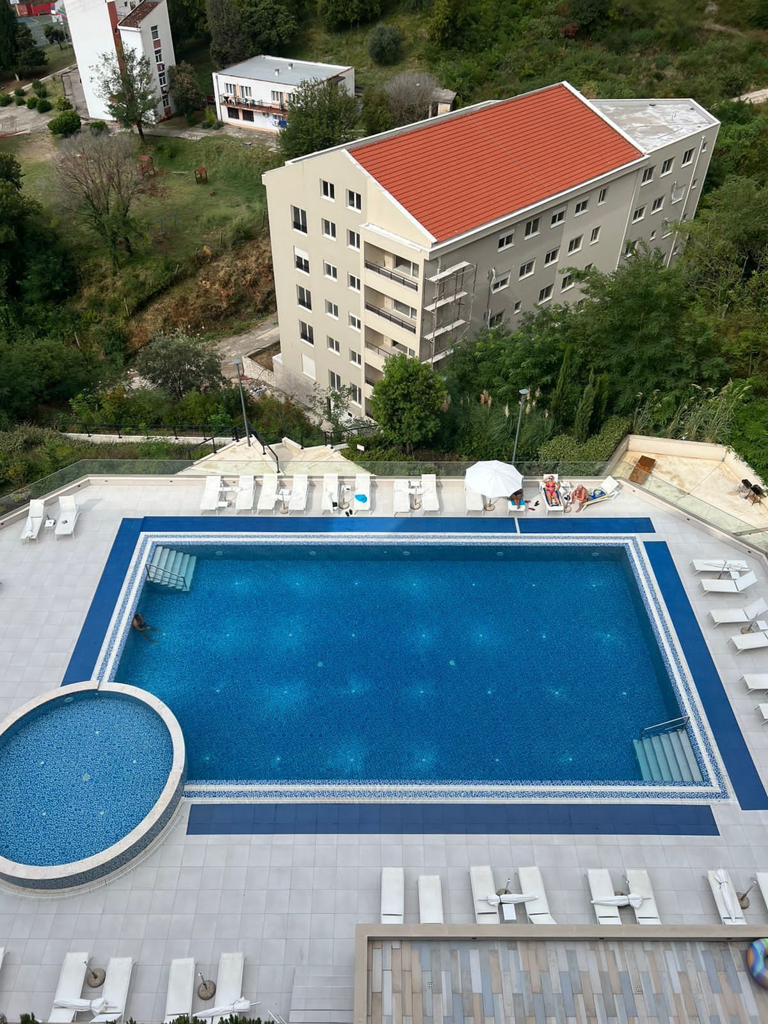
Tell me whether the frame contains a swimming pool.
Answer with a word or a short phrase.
Yes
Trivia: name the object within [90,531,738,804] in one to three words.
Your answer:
swimming pool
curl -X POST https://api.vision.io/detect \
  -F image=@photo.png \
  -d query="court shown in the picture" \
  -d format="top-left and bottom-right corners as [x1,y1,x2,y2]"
[13,13,71,47]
